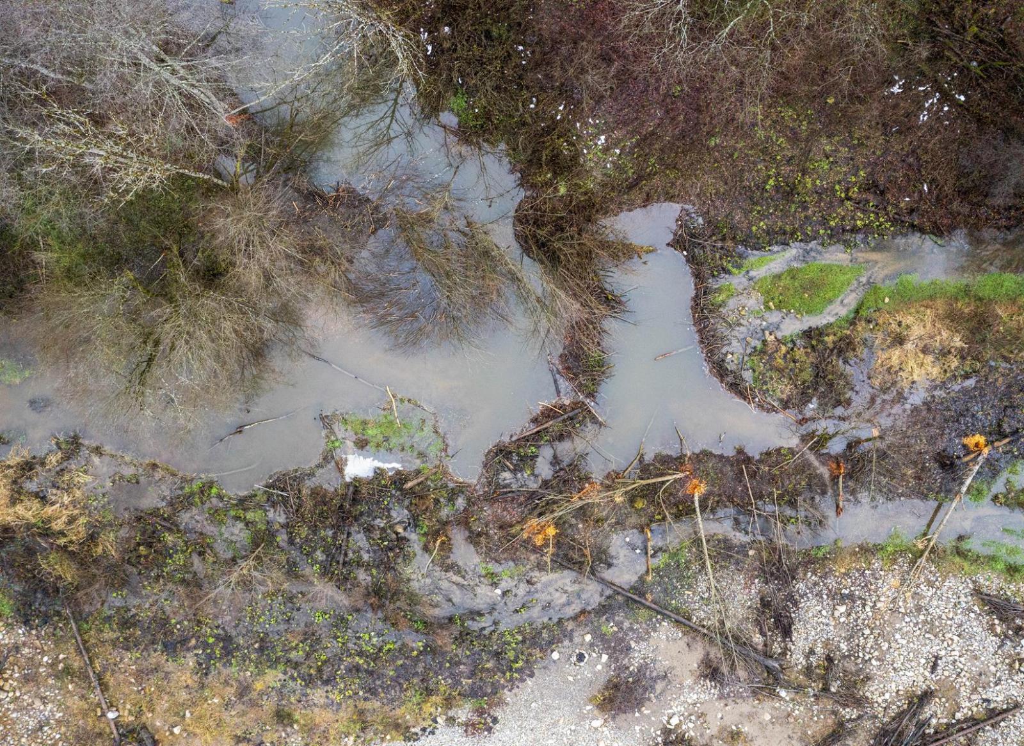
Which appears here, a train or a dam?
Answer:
dam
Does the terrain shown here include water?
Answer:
Yes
